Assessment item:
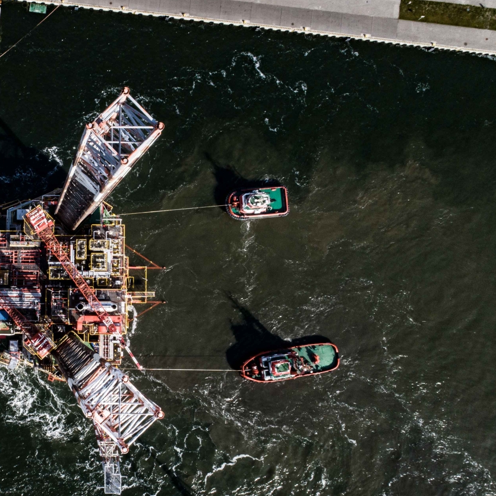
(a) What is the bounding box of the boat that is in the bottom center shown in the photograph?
[240,342,340,379]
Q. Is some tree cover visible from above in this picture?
No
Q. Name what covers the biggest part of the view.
water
